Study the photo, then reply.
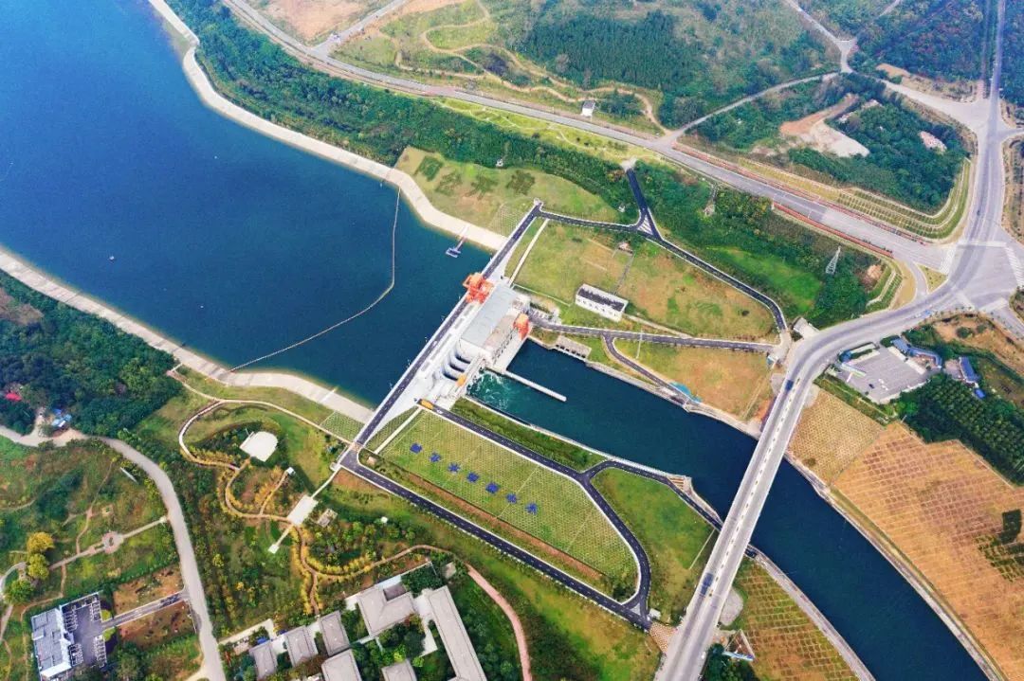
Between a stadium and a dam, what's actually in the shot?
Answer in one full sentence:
Of the two, only a dam appears.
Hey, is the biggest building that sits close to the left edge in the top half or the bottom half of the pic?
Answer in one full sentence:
You can find the biggest building that sits close to the left edge in the bottom half.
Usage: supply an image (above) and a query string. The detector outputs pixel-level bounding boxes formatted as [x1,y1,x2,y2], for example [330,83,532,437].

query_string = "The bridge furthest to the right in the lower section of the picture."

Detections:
[654,299,934,681]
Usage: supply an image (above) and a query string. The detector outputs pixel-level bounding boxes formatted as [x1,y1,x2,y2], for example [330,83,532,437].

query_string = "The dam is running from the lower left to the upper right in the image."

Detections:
[362,233,526,430]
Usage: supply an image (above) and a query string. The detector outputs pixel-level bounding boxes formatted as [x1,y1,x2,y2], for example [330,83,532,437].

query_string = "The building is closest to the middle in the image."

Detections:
[458,280,540,373]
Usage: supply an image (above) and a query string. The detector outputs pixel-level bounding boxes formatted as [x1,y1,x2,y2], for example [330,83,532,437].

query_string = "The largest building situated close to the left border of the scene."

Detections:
[30,608,72,676]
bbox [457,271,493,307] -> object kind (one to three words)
container crane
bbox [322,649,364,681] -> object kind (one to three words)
building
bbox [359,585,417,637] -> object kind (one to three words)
building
